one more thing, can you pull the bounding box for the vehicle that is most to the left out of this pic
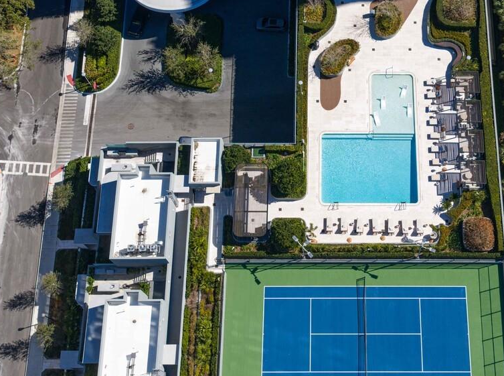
[124,8,148,42]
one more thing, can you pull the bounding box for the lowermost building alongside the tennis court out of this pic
[60,263,173,376]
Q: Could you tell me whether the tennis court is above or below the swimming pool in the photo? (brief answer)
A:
below it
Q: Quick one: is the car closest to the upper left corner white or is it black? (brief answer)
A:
black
